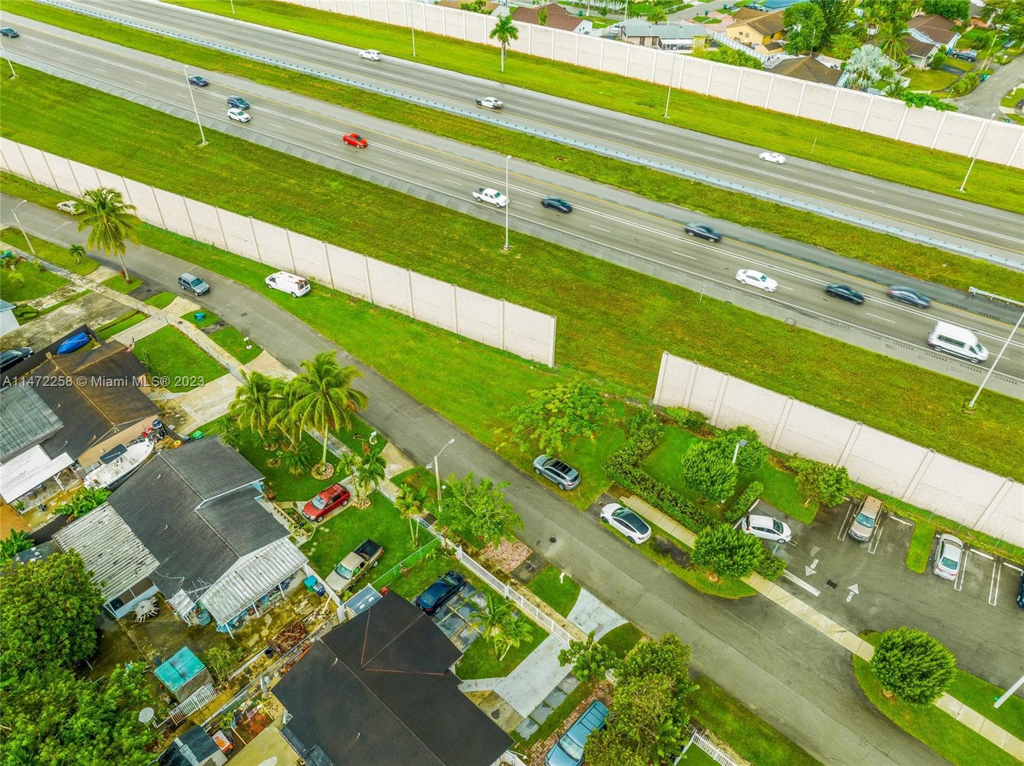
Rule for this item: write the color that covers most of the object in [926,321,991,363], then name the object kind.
white van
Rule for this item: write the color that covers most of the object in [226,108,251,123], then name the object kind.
white car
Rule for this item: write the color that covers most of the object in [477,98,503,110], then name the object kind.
white vehicle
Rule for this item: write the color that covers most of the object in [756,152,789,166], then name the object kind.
white car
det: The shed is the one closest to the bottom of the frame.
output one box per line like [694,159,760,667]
[150,725,226,766]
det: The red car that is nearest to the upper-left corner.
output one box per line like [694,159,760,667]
[340,134,369,149]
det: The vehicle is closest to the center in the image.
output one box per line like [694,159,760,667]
[529,455,585,490]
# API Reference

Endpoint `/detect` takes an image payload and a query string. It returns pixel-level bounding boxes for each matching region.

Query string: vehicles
[926,321,991,363]
[407,566,472,615]
[296,481,356,524]
[885,287,931,310]
[930,531,967,583]
[596,502,656,546]
[226,108,251,123]
[186,75,211,88]
[684,224,722,243]
[735,271,777,293]
[739,513,795,545]
[53,200,89,216]
[0,28,19,38]
[845,495,887,543]
[225,95,251,110]
[539,197,574,215]
[264,271,313,298]
[756,152,789,166]
[174,270,213,297]
[319,537,392,596]
[952,49,977,62]
[822,284,866,307]
[340,134,369,149]
[477,98,503,110]
[544,694,612,766]
[529,455,585,490]
[359,51,381,61]
[471,188,510,208]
